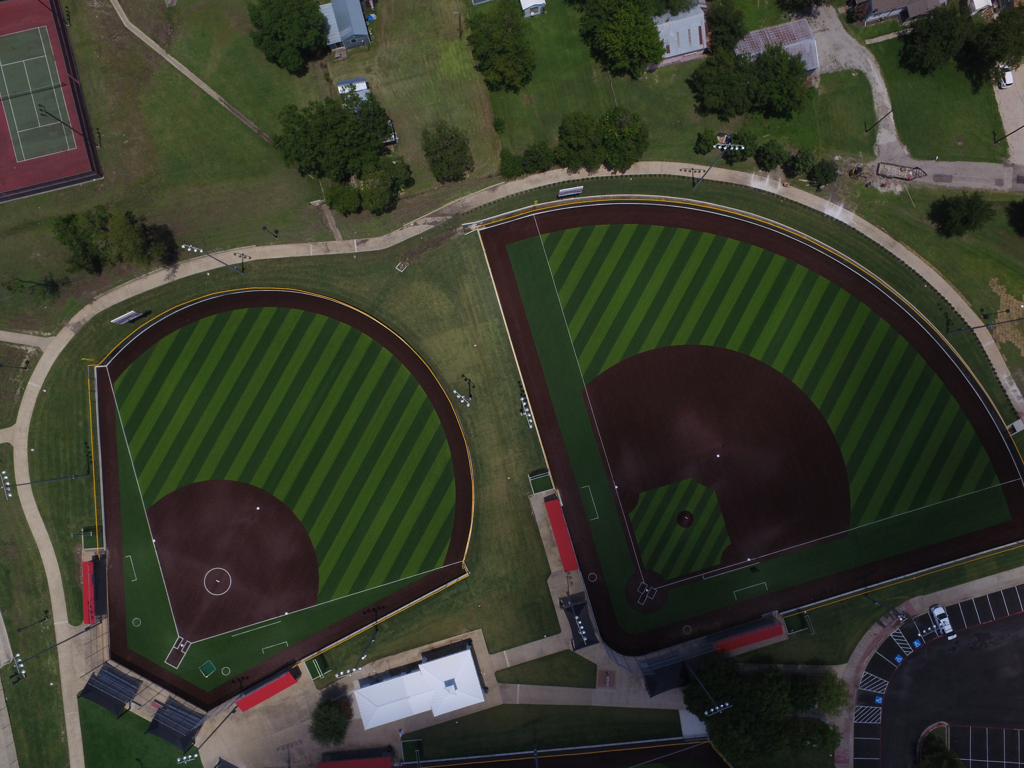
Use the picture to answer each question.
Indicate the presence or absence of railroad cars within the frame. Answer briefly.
No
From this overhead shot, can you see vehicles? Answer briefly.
Yes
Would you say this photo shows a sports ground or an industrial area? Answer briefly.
sports ground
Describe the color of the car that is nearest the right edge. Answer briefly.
white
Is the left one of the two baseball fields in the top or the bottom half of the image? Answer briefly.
bottom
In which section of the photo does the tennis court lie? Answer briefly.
top left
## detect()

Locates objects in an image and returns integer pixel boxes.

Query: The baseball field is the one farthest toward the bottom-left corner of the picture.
[96,291,473,712]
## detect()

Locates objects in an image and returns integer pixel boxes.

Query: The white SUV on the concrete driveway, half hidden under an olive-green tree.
[998,64,1018,91]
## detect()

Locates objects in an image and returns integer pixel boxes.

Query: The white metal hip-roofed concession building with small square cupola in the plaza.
[354,649,484,730]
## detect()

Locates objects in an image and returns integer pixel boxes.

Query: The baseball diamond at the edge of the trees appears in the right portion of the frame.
[480,205,1024,655]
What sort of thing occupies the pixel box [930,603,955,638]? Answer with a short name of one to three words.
truck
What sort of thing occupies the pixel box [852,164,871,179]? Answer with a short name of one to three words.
work vehicle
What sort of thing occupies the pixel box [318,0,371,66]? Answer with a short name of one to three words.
house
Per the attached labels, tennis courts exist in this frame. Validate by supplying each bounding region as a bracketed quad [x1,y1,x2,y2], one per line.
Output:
[0,0,92,194]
